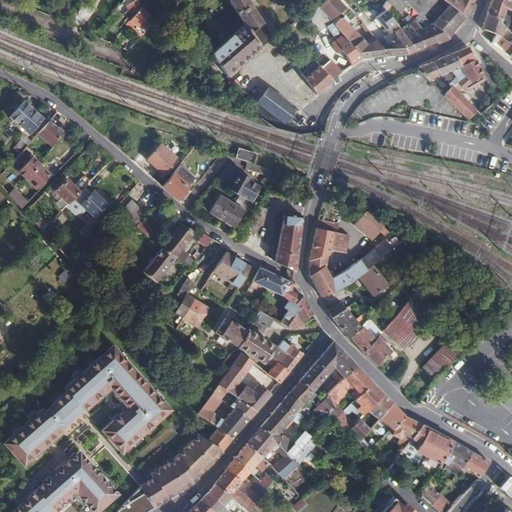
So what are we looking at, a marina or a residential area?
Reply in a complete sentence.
The picture captures a residential area.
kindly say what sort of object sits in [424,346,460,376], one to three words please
barn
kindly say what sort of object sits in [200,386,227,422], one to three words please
house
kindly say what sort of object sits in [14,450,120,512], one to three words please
building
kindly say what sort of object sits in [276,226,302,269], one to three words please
house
